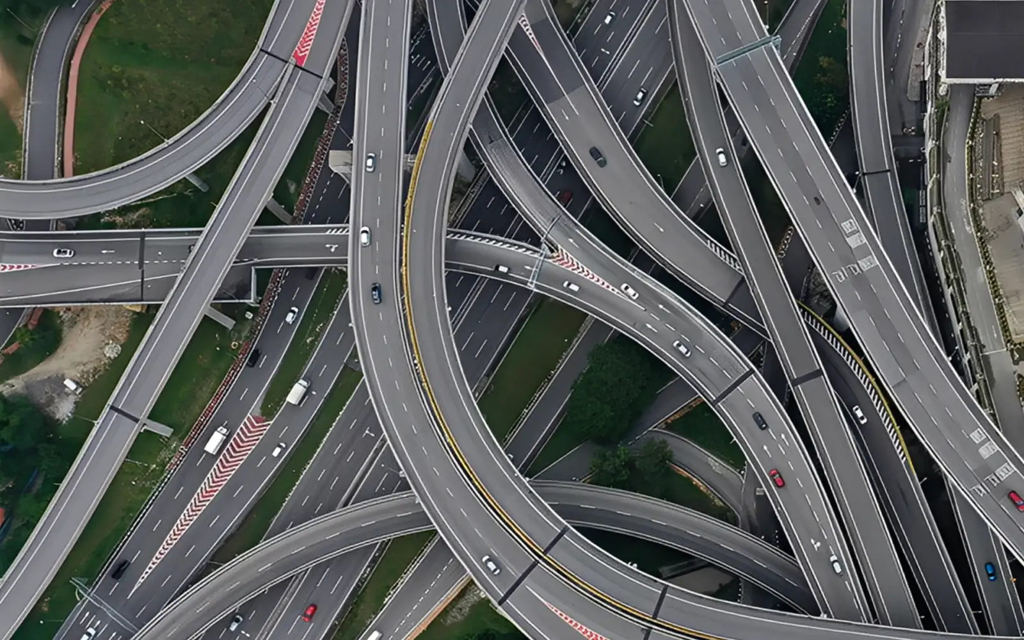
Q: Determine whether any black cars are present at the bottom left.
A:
Yes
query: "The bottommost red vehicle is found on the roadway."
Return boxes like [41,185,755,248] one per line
[302,603,317,622]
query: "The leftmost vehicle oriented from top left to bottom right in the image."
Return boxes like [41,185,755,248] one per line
[62,378,80,394]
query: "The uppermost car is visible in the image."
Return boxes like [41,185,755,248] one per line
[603,10,617,27]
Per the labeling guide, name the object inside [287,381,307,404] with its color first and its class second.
white vehicle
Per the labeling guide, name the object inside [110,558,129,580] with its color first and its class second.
black car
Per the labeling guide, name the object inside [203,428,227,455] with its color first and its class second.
white truck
